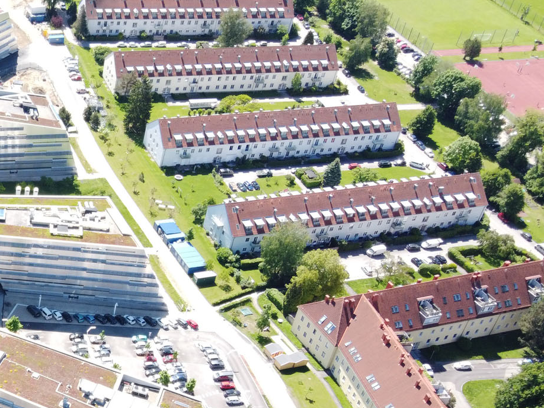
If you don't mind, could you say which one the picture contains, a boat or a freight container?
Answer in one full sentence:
It is a freight container that can be seen here.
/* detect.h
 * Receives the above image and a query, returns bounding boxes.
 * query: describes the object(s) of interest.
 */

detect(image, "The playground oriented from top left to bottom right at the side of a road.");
[234,305,284,337]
